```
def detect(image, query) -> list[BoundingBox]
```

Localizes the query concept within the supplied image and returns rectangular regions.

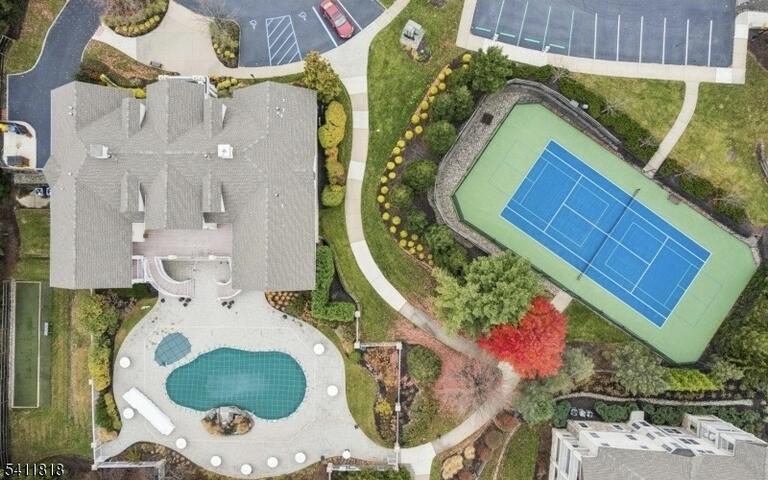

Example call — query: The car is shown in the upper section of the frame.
[321,0,352,35]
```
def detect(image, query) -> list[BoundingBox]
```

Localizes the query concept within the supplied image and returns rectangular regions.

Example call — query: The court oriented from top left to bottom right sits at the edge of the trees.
[454,103,757,364]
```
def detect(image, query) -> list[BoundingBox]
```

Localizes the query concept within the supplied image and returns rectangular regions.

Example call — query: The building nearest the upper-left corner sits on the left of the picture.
[44,76,320,301]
